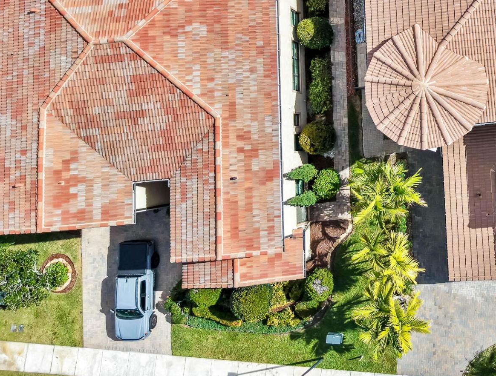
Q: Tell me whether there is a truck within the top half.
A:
No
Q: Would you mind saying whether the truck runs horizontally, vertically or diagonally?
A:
vertically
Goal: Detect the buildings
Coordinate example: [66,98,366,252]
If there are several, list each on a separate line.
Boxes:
[361,0,496,280]
[0,0,313,289]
